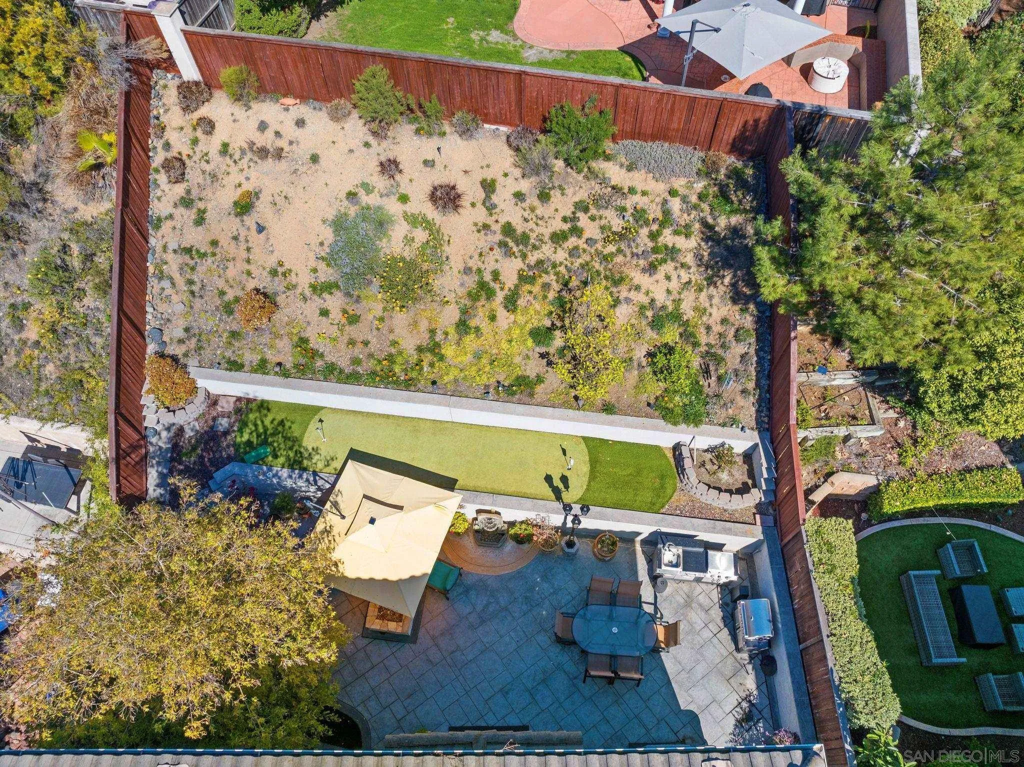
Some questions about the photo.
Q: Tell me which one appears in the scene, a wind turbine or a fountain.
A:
fountain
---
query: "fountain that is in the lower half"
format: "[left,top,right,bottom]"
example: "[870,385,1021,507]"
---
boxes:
[471,507,513,550]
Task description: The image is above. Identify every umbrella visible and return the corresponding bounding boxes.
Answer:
[654,0,833,139]
[293,459,462,618]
